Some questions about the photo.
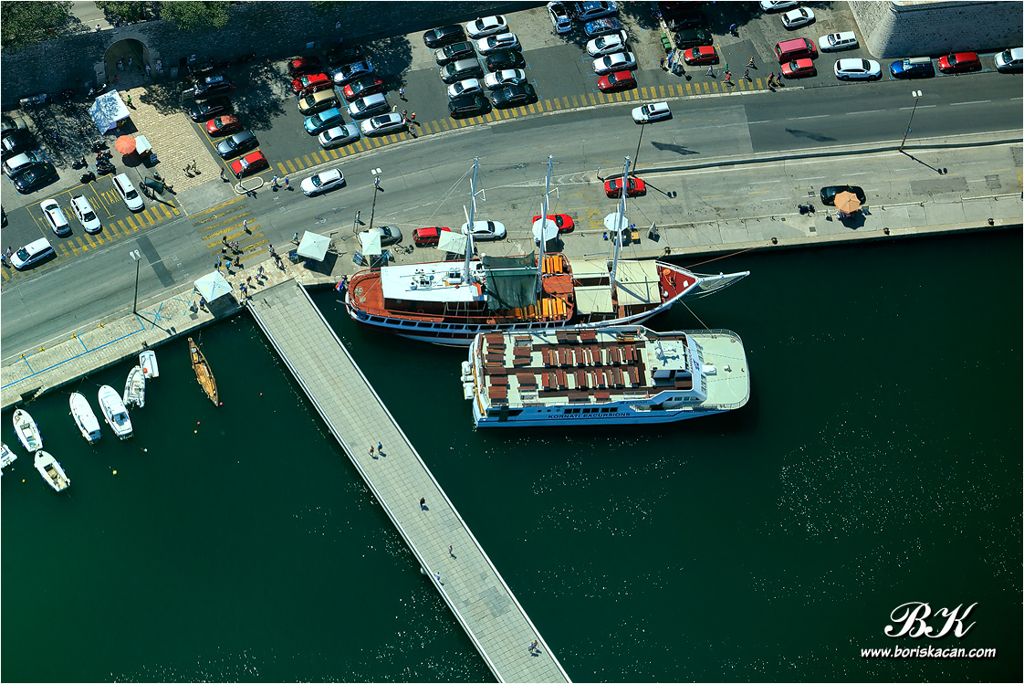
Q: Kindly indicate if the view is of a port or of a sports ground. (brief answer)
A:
port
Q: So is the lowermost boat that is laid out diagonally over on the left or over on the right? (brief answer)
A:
left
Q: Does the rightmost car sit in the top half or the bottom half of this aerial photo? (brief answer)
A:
top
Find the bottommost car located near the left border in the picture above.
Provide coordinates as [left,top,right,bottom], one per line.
[11,238,54,269]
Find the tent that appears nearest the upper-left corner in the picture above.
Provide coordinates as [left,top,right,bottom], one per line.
[87,90,130,139]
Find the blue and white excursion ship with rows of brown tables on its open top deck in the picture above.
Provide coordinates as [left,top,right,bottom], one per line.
[462,326,751,426]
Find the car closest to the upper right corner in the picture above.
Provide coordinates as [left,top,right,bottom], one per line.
[993,50,1024,71]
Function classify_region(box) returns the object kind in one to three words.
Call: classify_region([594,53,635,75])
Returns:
car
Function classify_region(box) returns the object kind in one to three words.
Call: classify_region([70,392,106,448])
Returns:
boat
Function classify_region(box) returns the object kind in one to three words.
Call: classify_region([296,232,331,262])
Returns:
umbrella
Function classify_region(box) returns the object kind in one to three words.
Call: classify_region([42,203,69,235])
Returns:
car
